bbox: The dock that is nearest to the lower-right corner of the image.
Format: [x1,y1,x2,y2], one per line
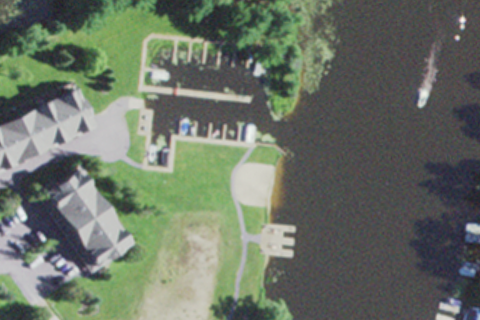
[260,224,296,258]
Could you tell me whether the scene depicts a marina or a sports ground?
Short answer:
marina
